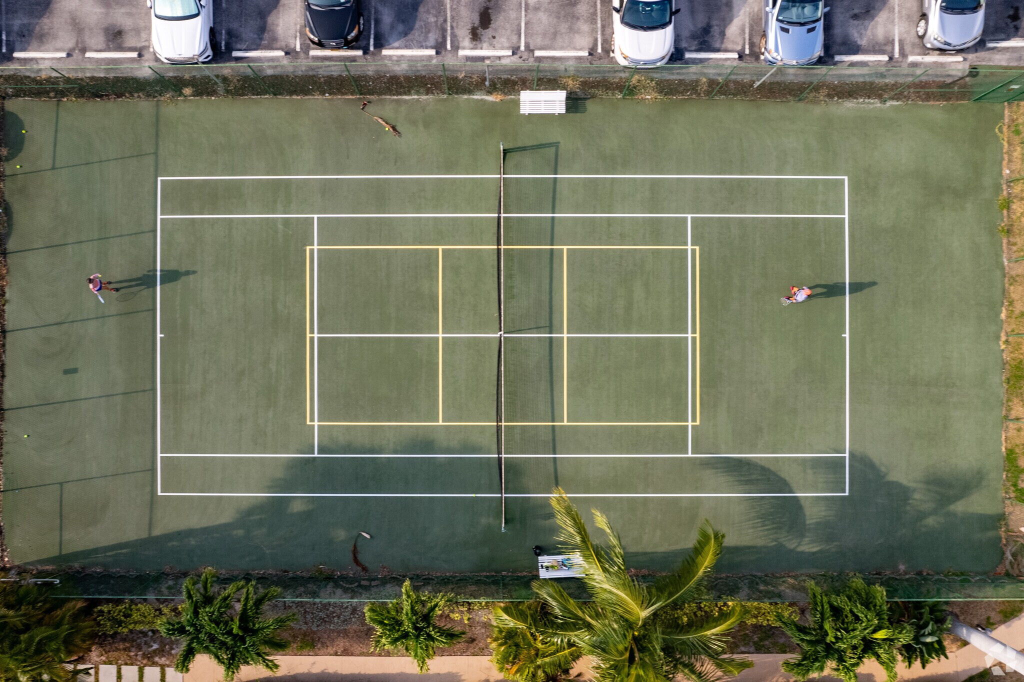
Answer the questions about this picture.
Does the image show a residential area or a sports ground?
sports ground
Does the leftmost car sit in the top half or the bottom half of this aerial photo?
top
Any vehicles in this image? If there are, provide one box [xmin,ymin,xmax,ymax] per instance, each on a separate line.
[610,0,683,70]
[763,0,834,69]
[305,0,361,51]
[140,0,215,65]
[922,0,998,54]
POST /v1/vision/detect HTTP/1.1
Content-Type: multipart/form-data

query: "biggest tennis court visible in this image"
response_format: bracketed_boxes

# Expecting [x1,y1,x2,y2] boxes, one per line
[2,96,1006,573]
